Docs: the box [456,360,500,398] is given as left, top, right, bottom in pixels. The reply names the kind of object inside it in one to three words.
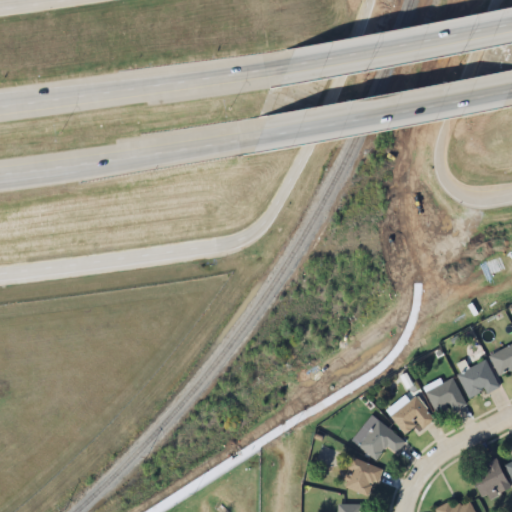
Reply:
house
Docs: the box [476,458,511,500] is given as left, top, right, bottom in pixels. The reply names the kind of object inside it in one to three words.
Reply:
house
